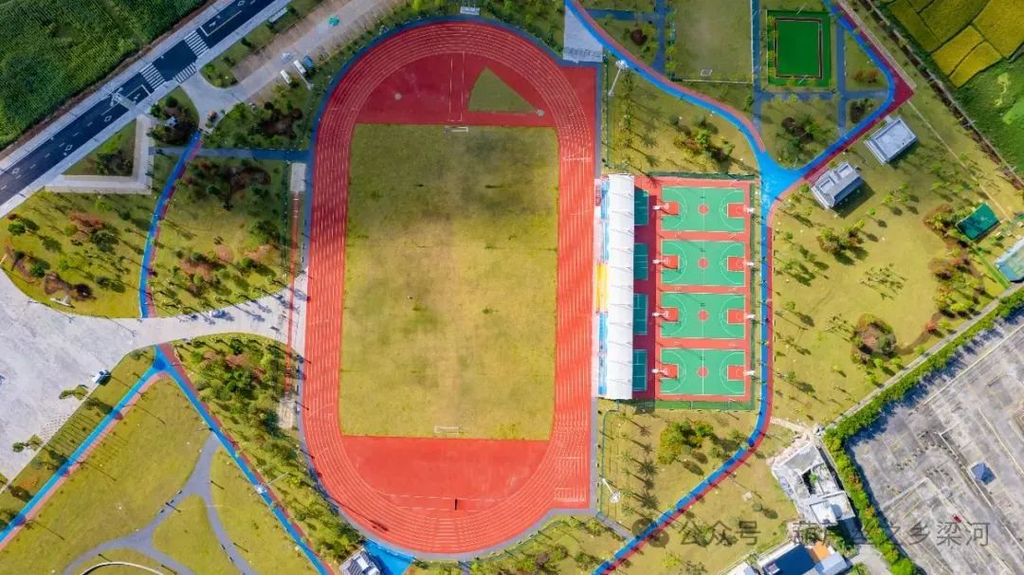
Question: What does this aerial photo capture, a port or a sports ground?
sports ground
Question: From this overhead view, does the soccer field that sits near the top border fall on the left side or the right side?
right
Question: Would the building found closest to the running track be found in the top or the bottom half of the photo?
bottom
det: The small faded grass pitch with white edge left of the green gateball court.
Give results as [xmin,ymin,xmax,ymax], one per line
[674,0,753,83]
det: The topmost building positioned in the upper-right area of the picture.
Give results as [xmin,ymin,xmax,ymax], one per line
[864,118,916,165]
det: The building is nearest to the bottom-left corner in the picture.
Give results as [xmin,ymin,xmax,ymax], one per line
[339,545,382,575]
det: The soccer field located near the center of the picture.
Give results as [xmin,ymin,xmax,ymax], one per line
[338,124,560,441]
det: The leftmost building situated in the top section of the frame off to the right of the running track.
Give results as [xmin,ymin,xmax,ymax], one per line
[809,163,858,209]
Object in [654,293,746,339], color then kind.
green basketball court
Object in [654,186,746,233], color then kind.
green basketball court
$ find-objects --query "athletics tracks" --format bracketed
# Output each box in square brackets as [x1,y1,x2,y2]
[303,22,595,558]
